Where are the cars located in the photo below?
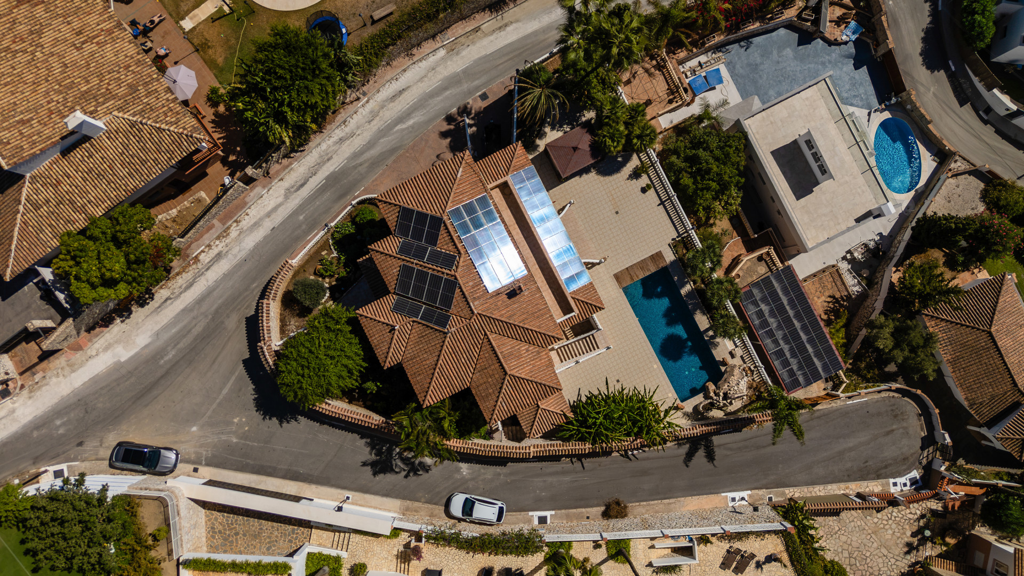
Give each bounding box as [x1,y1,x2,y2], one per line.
[476,101,507,158]
[105,441,180,477]
[445,492,508,528]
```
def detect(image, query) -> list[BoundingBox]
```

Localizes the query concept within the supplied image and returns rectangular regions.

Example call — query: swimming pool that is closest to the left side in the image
[624,268,719,400]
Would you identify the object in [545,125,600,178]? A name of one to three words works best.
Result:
gazebo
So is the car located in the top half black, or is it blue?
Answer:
black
